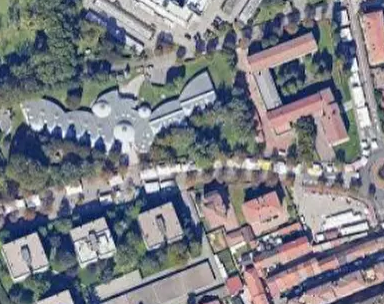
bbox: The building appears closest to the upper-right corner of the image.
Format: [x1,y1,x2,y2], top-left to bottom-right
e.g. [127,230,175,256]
[361,11,384,68]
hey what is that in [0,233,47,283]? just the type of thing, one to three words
building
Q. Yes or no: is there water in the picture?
No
